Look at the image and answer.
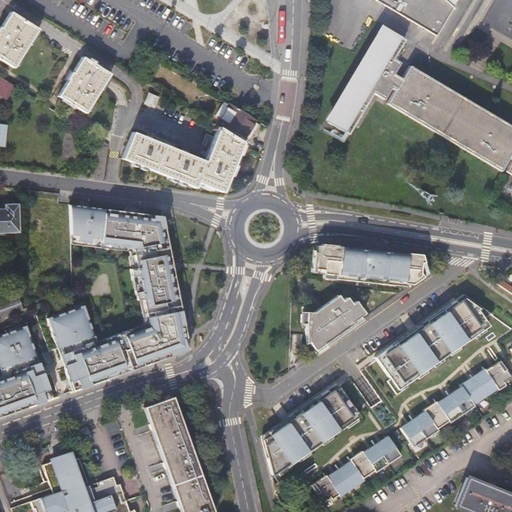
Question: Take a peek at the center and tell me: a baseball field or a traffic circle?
traffic circle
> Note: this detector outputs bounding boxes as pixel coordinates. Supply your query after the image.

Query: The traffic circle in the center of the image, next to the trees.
[228,192,302,264]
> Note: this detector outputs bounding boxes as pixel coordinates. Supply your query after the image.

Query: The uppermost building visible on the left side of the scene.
[0,11,41,72]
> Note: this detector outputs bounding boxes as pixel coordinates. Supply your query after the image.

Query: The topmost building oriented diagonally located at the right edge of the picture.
[386,67,512,176]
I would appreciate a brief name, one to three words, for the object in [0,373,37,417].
building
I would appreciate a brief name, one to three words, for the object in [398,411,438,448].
house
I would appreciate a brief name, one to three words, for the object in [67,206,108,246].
building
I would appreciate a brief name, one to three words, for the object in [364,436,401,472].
house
